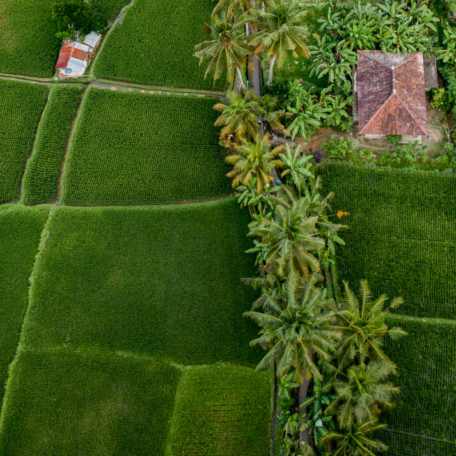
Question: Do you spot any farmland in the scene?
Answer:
Yes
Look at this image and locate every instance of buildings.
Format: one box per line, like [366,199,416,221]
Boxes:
[358,49,427,146]
[56,41,94,85]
